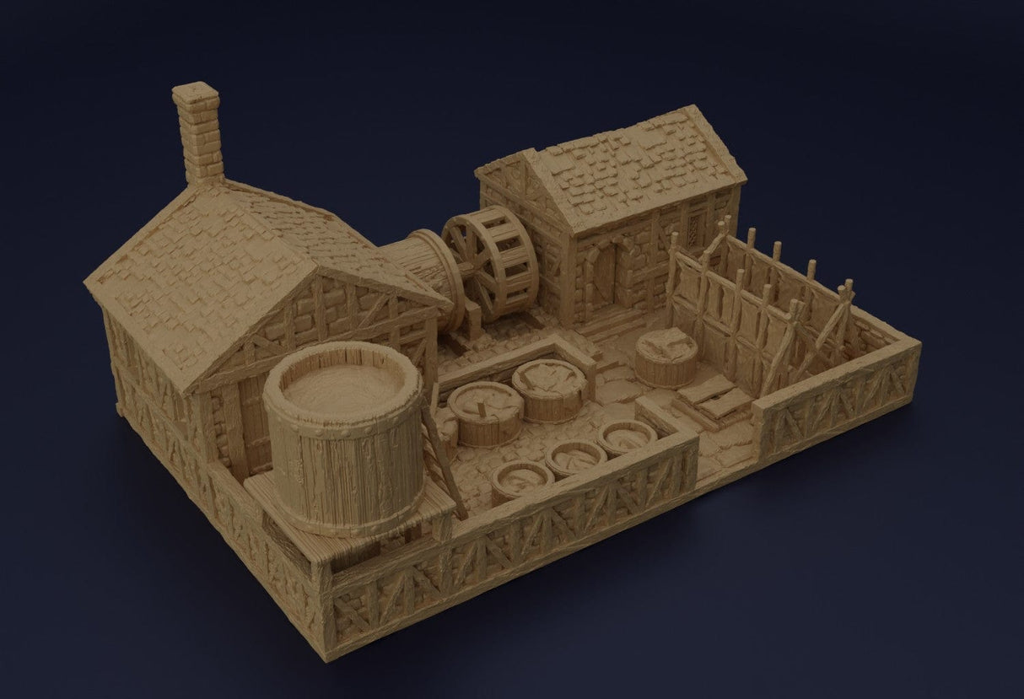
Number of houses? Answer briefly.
2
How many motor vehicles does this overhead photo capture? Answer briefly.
0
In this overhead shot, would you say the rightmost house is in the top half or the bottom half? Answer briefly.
top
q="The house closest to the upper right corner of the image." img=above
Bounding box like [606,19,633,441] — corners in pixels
[477,104,745,323]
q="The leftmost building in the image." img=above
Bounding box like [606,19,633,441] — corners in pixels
[85,84,451,518]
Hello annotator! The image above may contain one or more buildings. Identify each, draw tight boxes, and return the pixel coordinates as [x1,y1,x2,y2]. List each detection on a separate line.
[477,104,745,323]
[85,84,451,518]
